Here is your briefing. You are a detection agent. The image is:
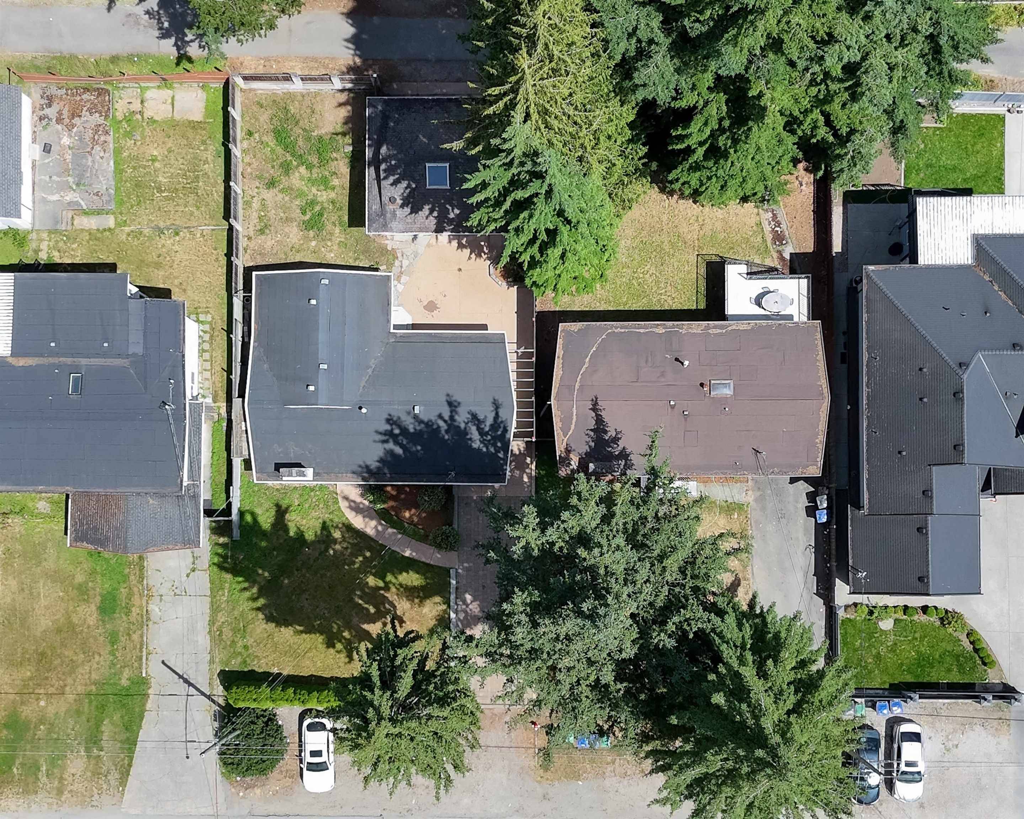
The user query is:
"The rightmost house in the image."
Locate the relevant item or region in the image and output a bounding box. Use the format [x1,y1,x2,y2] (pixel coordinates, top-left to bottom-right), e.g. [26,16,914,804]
[846,234,1024,595]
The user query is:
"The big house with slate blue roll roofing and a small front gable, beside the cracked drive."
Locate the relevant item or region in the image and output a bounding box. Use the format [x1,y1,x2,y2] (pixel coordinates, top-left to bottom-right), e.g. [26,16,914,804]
[0,273,204,555]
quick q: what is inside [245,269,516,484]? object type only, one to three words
house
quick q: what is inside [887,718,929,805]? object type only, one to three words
car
